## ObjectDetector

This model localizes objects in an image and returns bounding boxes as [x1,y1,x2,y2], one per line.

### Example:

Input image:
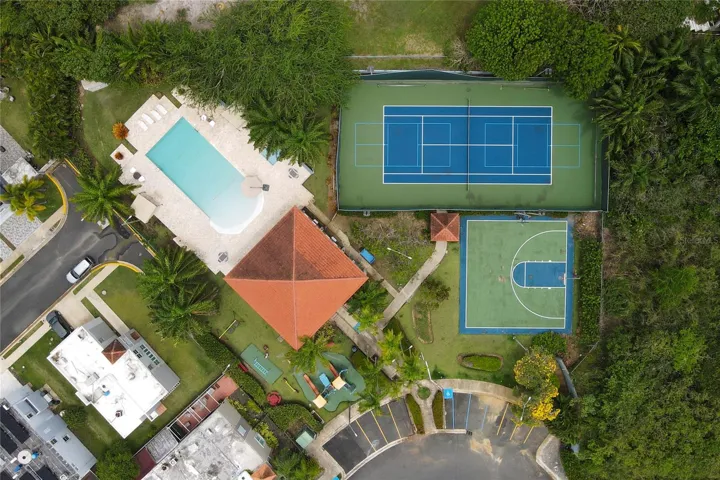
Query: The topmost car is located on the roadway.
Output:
[67,256,94,283]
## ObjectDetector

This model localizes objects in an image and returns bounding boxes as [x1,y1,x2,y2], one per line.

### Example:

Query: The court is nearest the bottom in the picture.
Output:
[460,216,574,335]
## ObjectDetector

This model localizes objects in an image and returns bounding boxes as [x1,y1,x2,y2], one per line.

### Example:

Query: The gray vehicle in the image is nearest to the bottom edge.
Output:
[46,311,75,341]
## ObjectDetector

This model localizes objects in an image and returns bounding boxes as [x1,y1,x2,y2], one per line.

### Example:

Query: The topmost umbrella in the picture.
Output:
[242,177,269,196]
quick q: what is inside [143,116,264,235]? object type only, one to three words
swimming pool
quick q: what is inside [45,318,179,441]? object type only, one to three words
house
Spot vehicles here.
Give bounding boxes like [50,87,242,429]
[67,256,94,283]
[46,311,75,341]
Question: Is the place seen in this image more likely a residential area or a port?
residential area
